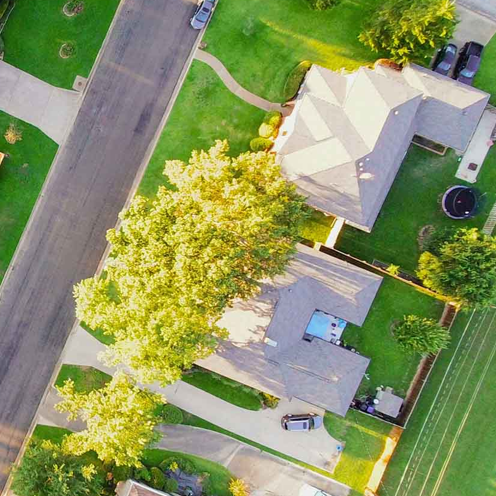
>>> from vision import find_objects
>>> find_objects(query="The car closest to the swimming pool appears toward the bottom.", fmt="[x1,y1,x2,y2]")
[281,413,324,433]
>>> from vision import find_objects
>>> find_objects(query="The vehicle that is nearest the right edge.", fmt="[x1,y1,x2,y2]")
[448,36,484,83]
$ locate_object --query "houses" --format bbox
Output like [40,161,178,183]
[195,232,383,417]
[118,477,168,496]
[271,63,490,233]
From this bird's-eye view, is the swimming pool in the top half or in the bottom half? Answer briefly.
bottom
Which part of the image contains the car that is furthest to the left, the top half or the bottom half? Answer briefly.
top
